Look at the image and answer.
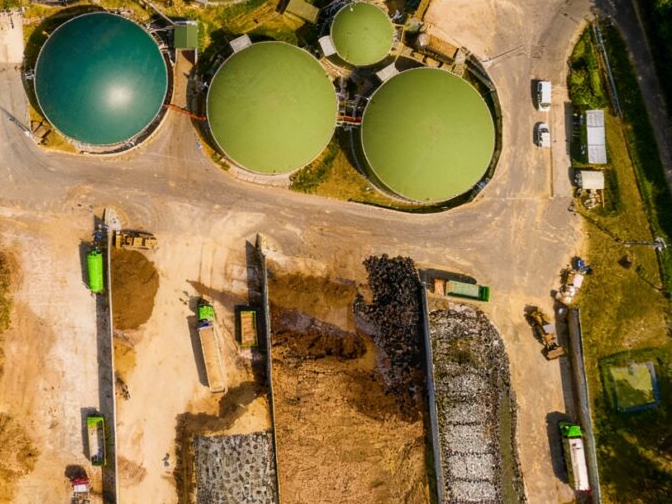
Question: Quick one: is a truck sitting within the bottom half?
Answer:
Yes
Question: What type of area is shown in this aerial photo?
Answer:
industrial area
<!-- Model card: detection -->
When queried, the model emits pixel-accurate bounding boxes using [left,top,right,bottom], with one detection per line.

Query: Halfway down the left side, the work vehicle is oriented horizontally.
[114,232,158,249]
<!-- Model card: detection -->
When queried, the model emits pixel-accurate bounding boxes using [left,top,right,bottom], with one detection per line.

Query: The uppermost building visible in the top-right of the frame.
[578,110,608,164]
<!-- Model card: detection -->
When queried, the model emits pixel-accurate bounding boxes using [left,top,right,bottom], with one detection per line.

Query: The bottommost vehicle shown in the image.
[70,475,89,504]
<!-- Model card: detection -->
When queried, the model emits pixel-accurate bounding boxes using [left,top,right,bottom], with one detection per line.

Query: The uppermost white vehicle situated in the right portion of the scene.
[535,82,550,112]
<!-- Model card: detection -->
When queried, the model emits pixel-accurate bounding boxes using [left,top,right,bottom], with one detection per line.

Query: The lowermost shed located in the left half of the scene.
[174,24,198,51]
